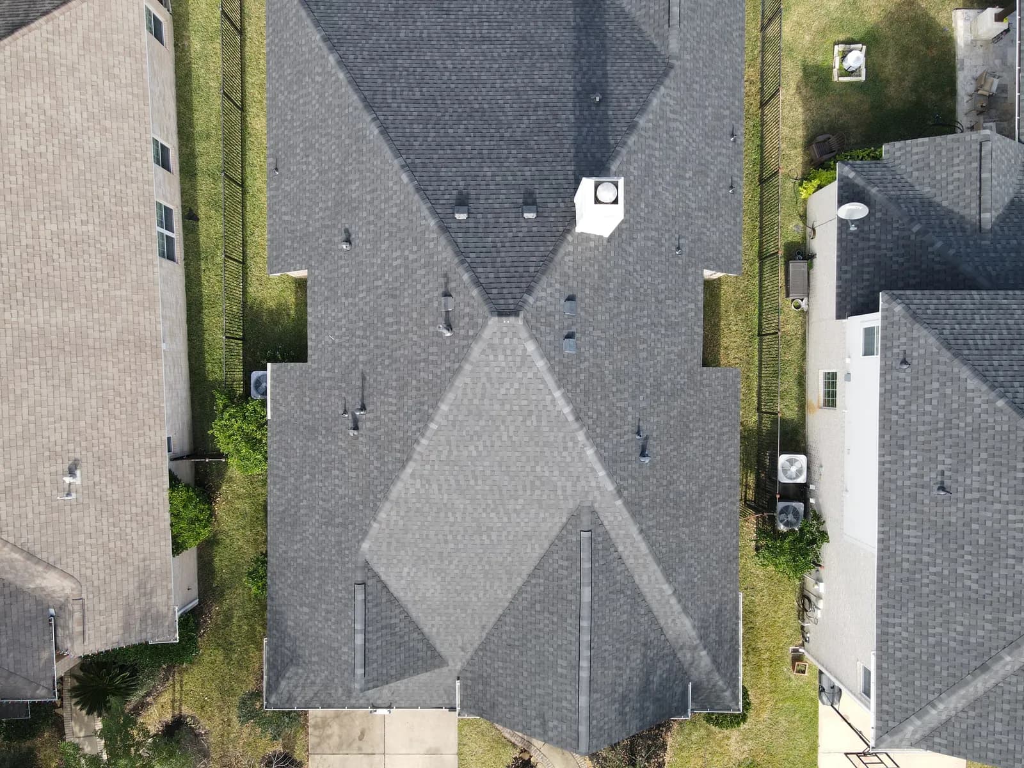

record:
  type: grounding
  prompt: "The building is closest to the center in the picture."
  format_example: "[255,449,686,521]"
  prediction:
[262,0,748,757]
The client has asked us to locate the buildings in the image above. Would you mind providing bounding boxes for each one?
[0,0,200,719]
[262,0,748,757]
[802,0,1024,768]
